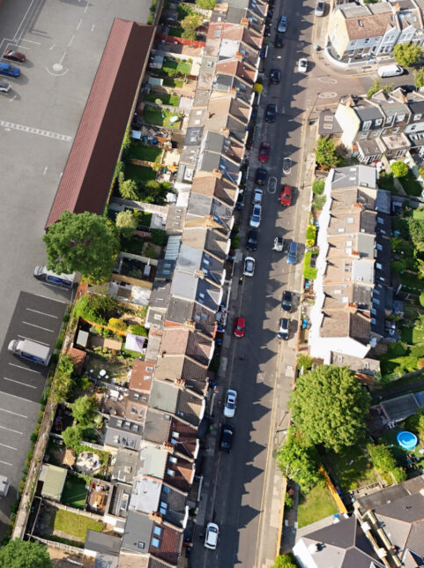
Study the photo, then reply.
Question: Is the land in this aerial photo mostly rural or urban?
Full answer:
It looks urban.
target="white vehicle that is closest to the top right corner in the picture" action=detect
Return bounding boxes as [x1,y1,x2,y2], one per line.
[376,64,402,78]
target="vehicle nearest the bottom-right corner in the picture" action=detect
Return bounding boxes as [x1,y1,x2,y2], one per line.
[204,522,220,551]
